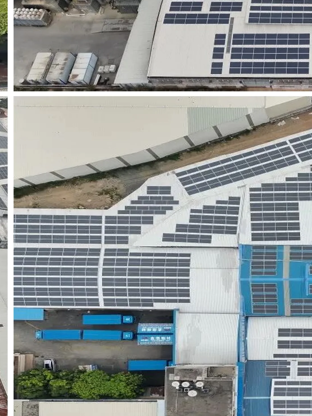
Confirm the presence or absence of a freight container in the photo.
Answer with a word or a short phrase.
Yes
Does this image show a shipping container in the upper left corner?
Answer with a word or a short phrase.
Yes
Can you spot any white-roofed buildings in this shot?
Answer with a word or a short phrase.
Yes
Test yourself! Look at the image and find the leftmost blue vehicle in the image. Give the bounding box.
[31,326,81,339]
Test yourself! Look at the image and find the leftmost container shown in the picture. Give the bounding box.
[26,53,53,84]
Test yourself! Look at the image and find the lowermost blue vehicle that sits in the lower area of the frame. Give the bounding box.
[128,356,164,369]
